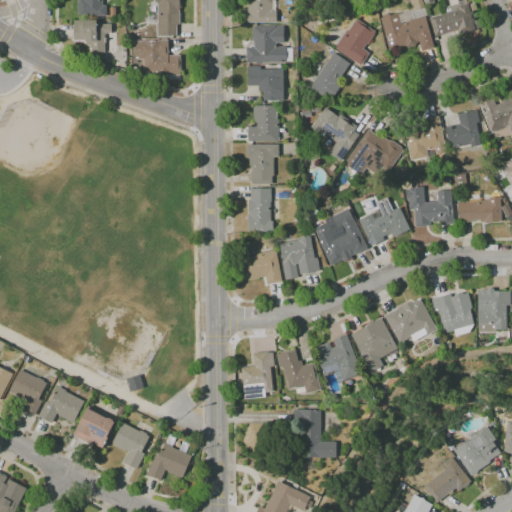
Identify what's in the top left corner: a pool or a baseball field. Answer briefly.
baseball field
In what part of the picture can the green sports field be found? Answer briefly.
left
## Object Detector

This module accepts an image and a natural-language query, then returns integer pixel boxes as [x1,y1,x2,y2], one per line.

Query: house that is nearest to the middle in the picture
[248,250,282,284]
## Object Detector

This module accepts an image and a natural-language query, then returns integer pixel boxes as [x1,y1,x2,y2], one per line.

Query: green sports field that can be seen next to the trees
[0,71,196,405]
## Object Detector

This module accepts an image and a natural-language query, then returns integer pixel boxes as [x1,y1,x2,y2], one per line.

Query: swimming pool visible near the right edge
[454,414,489,440]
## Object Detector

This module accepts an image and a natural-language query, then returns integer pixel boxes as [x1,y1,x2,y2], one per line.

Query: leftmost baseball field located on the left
[0,74,78,179]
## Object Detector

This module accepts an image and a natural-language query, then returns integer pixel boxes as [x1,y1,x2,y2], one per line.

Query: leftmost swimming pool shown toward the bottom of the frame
[326,374,344,396]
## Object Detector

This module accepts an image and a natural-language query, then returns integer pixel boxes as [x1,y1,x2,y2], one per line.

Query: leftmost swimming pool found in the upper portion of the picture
[309,162,330,192]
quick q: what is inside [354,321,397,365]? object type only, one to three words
house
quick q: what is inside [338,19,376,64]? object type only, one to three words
house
